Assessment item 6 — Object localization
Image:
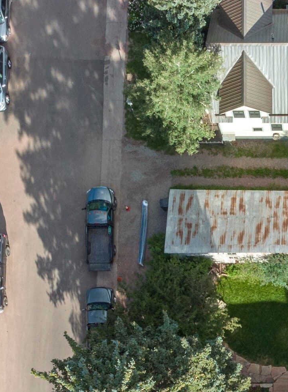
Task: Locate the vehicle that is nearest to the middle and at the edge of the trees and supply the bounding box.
[84,188,118,271]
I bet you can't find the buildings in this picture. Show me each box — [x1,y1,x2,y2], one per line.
[165,189,288,257]
[206,0,288,139]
